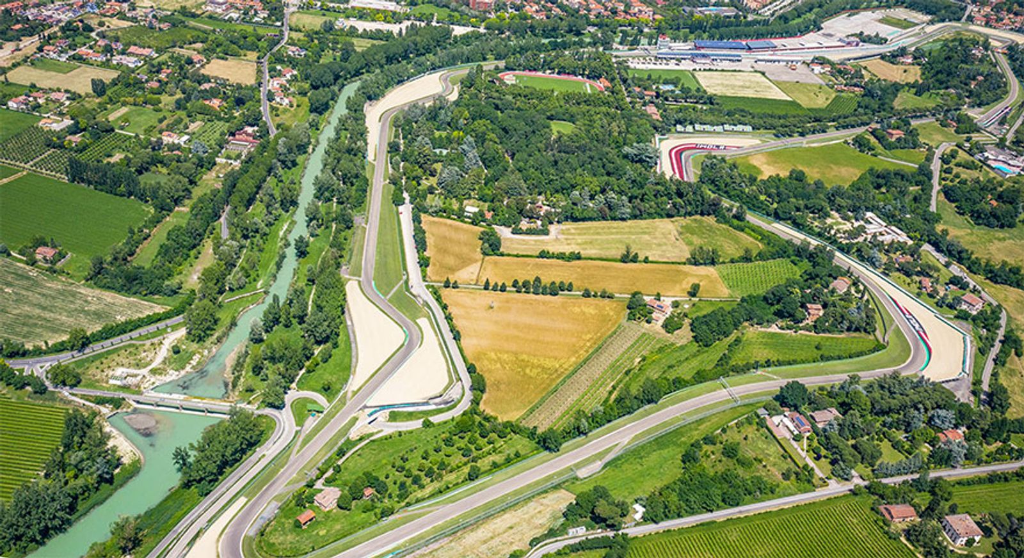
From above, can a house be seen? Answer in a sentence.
Yes, the picture does show a house.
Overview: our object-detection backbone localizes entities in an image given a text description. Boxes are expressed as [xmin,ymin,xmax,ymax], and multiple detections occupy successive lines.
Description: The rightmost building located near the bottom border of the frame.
[944,514,983,545]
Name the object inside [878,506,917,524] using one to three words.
barn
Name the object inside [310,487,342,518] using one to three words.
house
